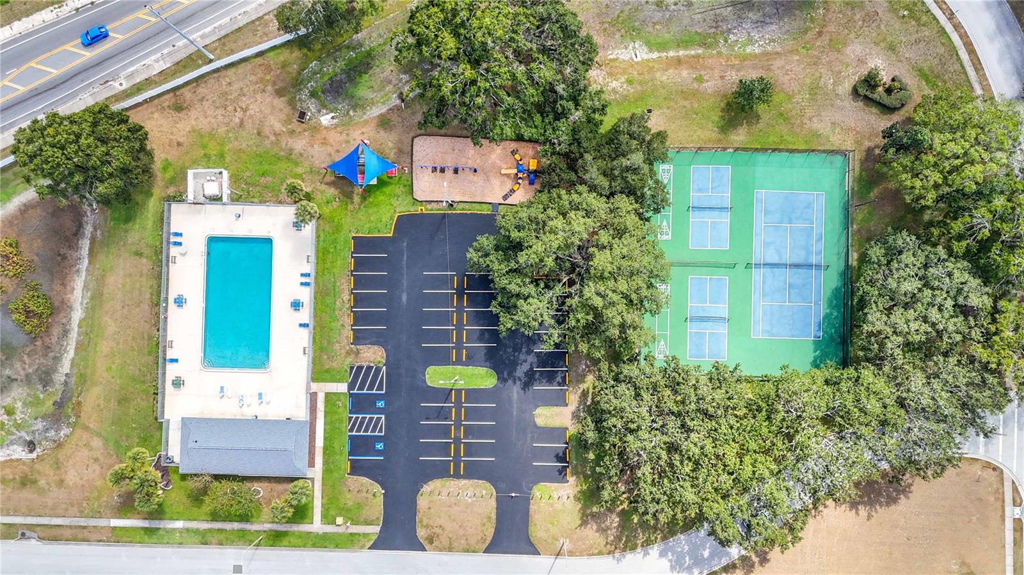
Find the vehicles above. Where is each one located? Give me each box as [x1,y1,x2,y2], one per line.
[78,23,107,45]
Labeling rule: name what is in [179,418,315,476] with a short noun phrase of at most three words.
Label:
building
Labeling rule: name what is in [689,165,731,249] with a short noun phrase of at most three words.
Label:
sports court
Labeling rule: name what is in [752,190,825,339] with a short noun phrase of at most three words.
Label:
tennis court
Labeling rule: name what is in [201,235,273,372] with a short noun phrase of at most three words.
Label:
swimming pool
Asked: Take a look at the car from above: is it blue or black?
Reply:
blue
